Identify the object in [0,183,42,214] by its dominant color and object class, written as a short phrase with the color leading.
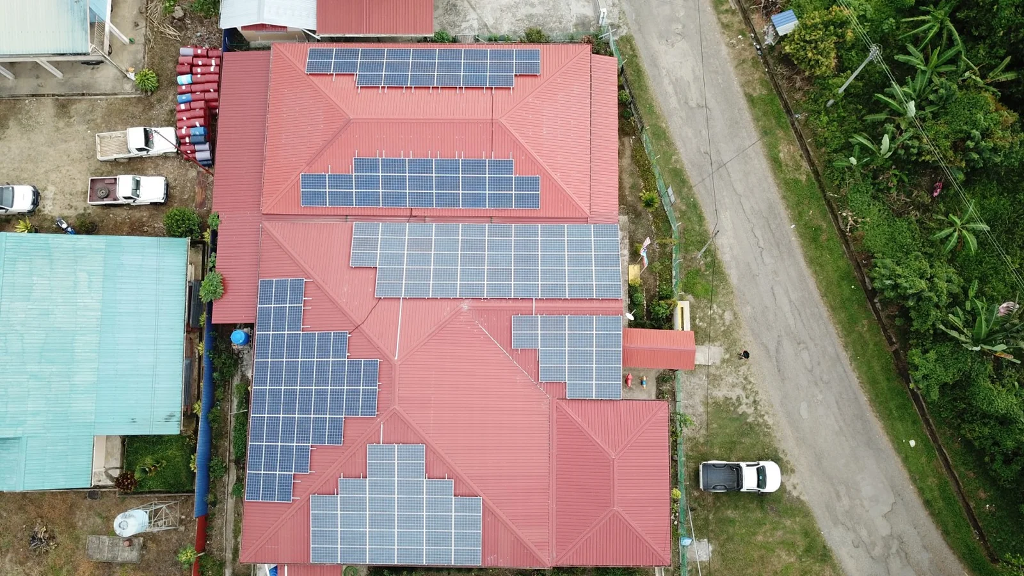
white truck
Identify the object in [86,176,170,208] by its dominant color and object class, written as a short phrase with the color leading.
white truck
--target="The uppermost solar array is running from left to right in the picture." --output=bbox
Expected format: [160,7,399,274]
[304,45,540,96]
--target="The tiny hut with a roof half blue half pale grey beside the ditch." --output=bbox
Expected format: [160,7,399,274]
[767,3,799,40]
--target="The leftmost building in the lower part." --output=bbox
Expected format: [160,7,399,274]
[0,232,201,492]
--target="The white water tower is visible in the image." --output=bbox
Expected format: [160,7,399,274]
[117,498,181,538]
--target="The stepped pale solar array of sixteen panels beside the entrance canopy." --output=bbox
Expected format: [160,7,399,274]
[512,314,621,400]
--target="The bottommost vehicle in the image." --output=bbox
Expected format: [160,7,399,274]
[698,460,782,495]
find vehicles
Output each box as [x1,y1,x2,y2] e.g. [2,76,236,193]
[97,127,179,162]
[51,214,72,235]
[0,183,42,214]
[698,460,782,495]
[86,176,170,208]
